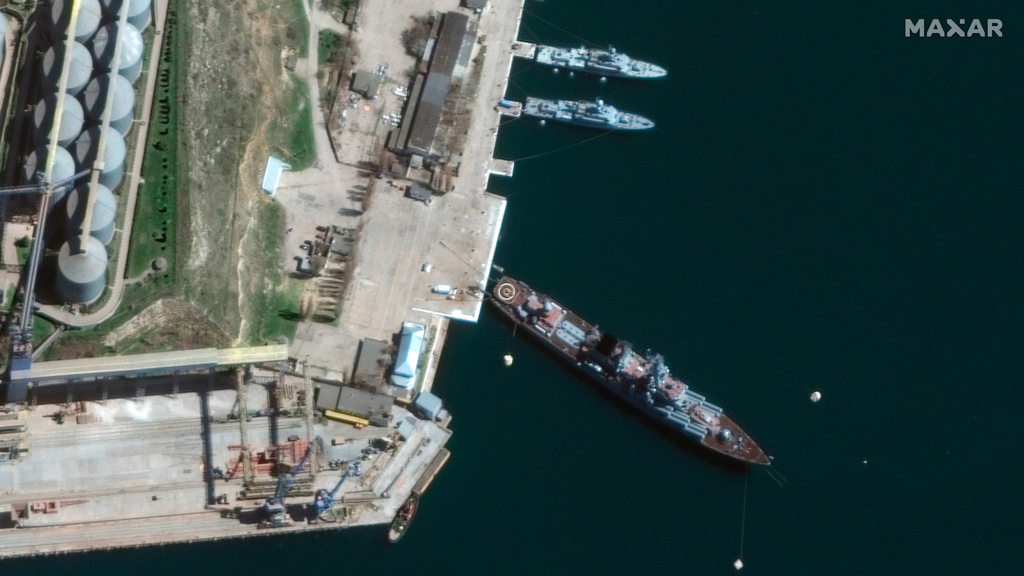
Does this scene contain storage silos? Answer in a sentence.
Yes, a storage silo is visible in the scene.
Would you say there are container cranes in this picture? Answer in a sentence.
Yes, the image includes a container crane.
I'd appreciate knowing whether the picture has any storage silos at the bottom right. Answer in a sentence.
No, I see no storage silo at the bottom right.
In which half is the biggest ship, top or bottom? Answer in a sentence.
The biggest ship sits in the bottom half of the picture.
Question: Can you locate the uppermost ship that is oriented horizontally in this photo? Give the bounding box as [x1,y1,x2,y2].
[536,46,668,79]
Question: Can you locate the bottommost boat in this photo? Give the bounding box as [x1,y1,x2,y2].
[387,492,421,545]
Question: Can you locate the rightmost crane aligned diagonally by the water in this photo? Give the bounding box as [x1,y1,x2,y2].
[313,456,363,523]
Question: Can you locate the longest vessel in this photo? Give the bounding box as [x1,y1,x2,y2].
[491,276,771,474]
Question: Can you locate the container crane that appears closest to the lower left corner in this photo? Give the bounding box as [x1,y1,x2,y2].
[0,410,28,467]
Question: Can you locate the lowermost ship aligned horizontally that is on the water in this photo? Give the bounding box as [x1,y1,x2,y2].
[524,97,655,132]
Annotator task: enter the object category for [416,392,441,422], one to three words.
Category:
building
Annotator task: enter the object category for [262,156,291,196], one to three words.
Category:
shed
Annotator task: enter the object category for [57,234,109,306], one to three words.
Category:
silo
